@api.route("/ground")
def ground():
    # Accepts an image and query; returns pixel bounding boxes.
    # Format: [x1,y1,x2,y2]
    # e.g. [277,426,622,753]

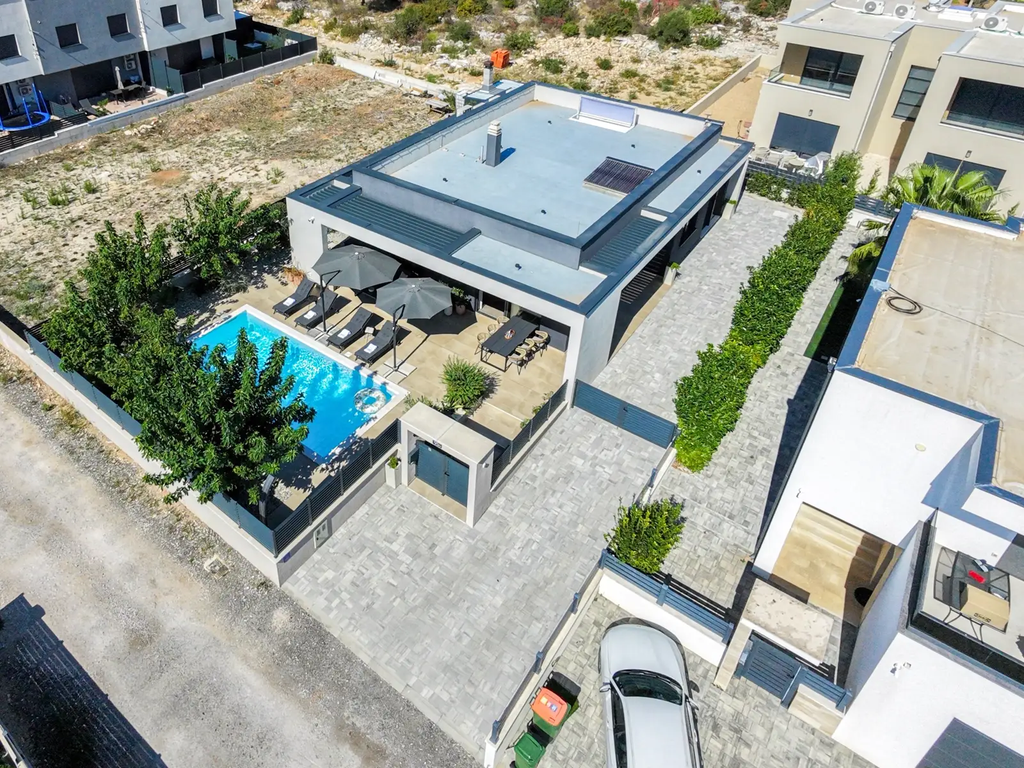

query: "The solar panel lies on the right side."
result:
[577,154,659,201]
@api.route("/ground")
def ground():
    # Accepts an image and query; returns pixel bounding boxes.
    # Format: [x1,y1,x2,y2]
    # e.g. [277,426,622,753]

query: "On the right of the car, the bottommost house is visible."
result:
[742,202,1024,768]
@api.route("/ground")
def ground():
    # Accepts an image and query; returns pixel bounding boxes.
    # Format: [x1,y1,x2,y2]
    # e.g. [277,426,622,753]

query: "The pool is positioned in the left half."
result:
[158,307,409,464]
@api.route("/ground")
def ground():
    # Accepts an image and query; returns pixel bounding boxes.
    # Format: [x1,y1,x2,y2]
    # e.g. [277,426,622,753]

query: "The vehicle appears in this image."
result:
[602,627,705,768]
